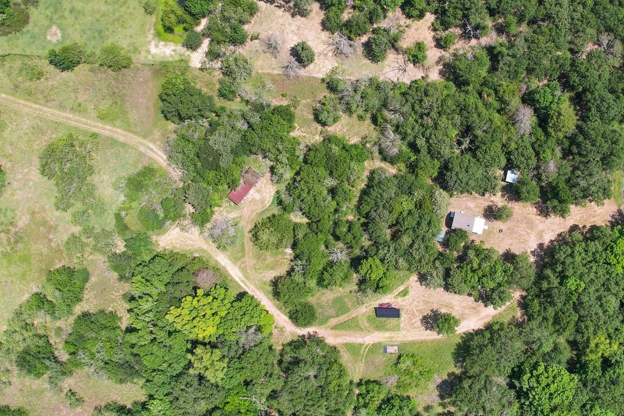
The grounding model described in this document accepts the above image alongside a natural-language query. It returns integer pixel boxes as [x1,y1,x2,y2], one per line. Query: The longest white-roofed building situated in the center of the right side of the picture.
[451,212,487,235]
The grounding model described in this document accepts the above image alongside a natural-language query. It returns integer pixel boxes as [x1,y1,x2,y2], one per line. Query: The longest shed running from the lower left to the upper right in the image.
[227,169,261,204]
